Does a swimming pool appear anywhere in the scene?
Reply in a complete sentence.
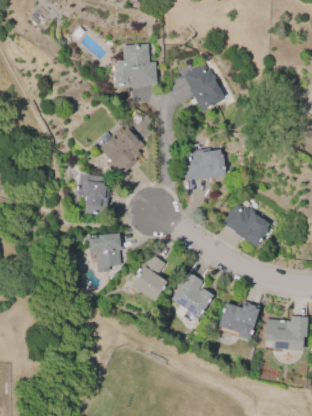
Yes, the picture does show a swimming pool.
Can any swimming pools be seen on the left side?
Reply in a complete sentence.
Yes, I can see a swimming pool on the left side.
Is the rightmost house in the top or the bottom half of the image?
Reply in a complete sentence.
The bottom half of the photo is where the rightmost house is.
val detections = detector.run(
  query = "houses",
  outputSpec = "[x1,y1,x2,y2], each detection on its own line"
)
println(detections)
[89,234,122,272]
[266,316,310,351]
[218,300,263,338]
[174,272,216,317]
[184,64,228,112]
[114,42,158,89]
[130,257,169,303]
[76,173,109,214]
[223,203,271,248]
[188,147,227,182]
[102,128,144,170]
